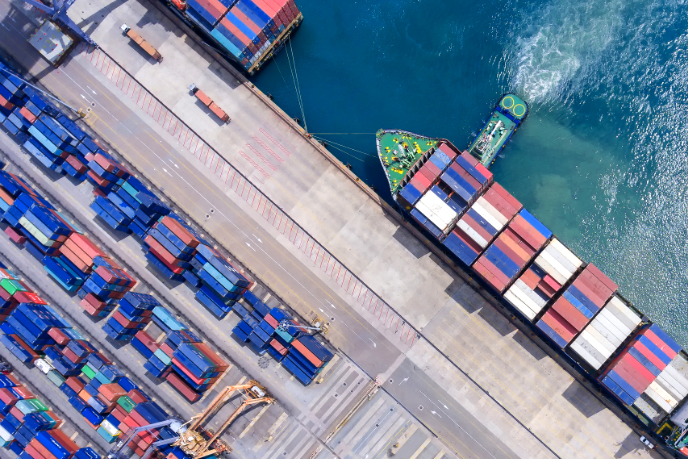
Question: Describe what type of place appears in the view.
port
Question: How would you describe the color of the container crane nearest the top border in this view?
blue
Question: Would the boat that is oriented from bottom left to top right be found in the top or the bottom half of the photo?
top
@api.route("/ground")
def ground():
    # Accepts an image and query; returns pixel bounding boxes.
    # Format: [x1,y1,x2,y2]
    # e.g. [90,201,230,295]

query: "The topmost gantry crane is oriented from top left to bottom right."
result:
[32,0,104,52]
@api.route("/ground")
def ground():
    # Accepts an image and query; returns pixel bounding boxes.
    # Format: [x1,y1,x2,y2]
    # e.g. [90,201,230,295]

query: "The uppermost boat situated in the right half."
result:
[466,94,529,174]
